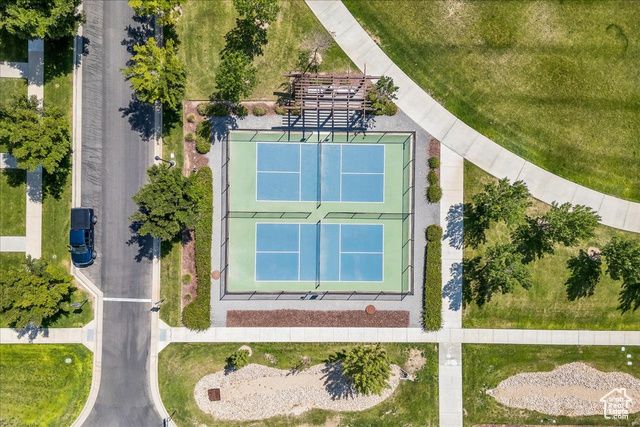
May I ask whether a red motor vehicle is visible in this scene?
No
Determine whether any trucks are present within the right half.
No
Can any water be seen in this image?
No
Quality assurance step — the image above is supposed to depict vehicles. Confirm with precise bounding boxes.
[68,208,96,267]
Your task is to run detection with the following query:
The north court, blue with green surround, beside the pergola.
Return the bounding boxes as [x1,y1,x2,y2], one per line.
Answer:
[230,133,410,214]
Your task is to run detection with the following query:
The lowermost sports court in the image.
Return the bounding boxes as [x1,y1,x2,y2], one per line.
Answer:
[229,213,409,291]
